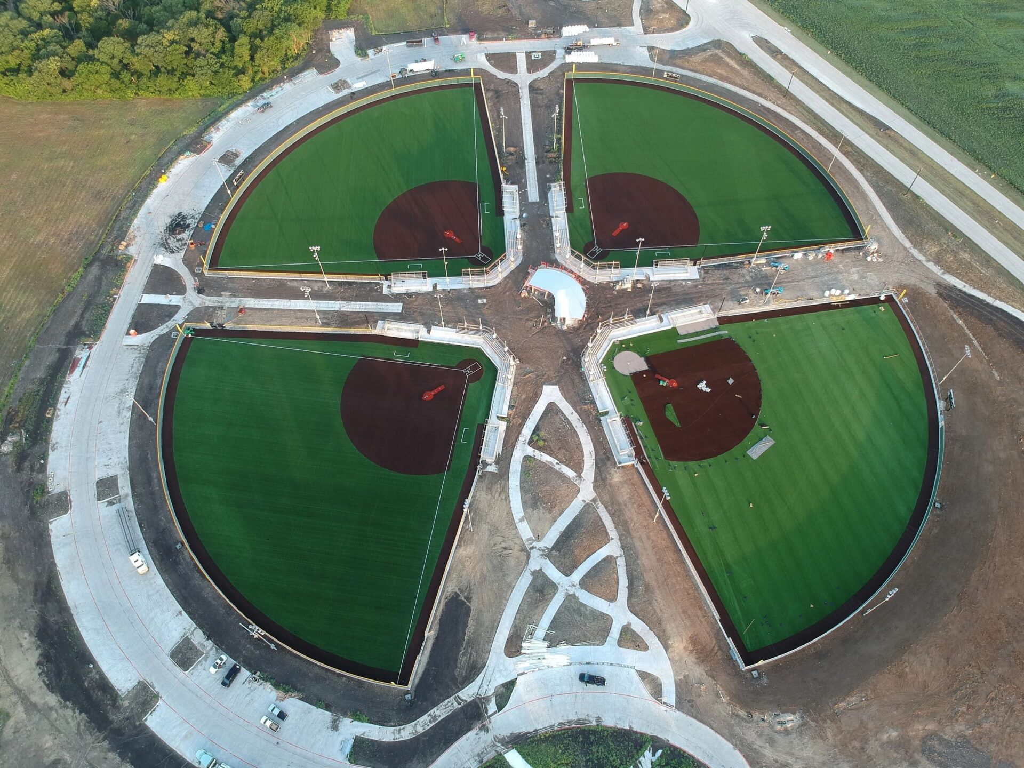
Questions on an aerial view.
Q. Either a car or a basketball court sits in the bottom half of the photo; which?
car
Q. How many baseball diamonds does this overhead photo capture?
4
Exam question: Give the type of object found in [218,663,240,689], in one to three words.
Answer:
car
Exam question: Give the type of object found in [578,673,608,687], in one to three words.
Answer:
vehicle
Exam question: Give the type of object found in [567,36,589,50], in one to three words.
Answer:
vehicle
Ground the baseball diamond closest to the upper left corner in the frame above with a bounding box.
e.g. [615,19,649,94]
[207,82,506,282]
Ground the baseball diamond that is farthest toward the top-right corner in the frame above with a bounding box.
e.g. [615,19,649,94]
[562,78,866,267]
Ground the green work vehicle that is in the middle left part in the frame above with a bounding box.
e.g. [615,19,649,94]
[182,325,200,338]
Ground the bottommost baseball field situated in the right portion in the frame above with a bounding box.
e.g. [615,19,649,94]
[600,295,938,661]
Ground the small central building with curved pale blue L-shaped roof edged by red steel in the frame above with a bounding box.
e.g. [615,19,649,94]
[522,265,591,327]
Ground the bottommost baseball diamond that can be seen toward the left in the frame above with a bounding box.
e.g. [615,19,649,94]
[163,328,497,681]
